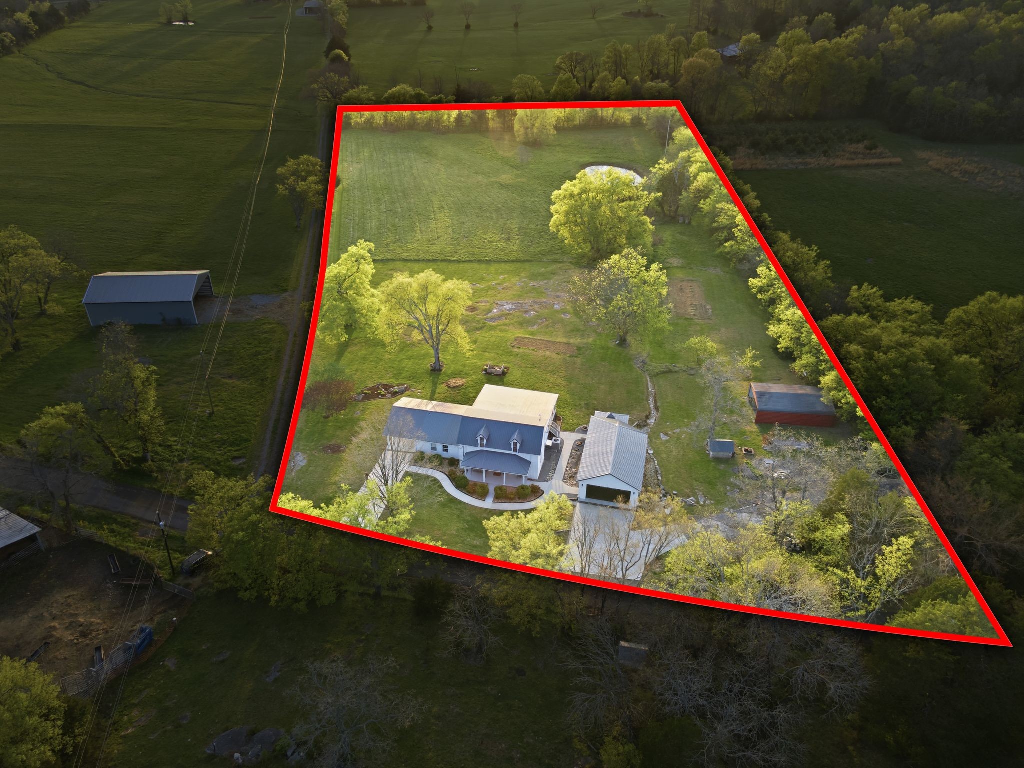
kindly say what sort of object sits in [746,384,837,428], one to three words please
barn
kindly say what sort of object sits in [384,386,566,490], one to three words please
house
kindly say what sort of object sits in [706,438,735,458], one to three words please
shed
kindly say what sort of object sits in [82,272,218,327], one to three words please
barn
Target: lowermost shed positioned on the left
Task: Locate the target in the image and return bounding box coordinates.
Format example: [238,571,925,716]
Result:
[0,501,48,565]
